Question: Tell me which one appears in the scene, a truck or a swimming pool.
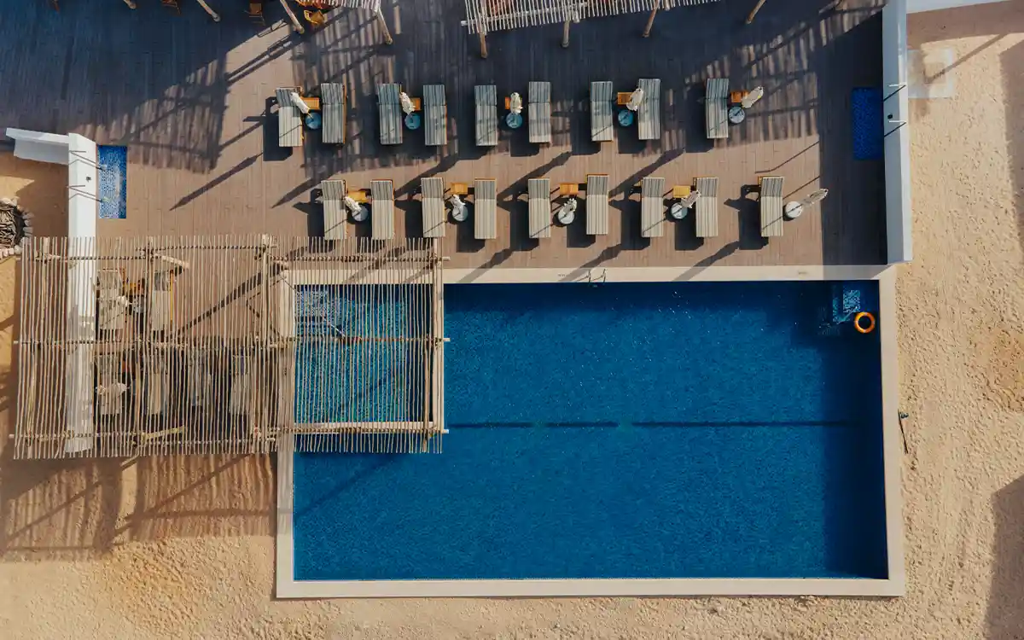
swimming pool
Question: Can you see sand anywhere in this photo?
Yes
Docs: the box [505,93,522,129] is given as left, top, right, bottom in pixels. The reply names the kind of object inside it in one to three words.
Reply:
umbrella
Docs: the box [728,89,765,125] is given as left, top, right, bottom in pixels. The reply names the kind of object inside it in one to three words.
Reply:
umbrella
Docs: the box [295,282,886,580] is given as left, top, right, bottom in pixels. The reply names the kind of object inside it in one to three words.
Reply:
swimming pool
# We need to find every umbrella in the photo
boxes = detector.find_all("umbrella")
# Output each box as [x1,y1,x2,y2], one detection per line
[289,95,322,130]
[341,195,369,222]
[558,202,577,225]
[785,194,827,218]
[728,89,765,125]
[505,93,522,129]
[450,196,469,221]
[617,91,639,127]
[670,193,698,220]
[399,93,422,130]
